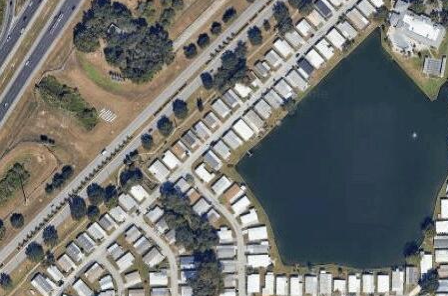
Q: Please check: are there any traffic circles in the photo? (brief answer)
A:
No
